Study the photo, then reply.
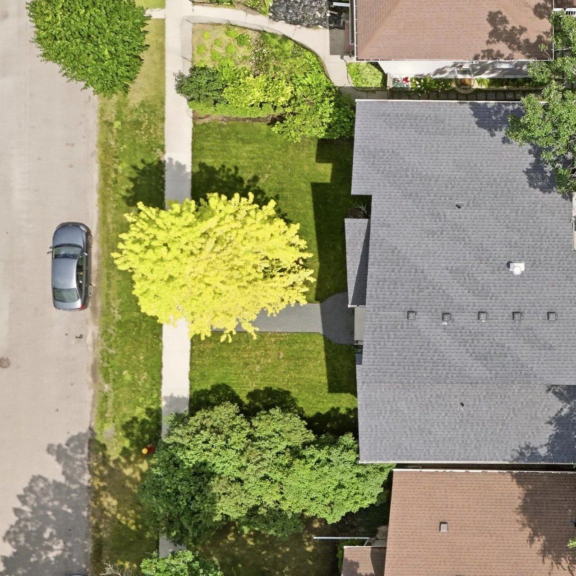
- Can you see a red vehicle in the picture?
No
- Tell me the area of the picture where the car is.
left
